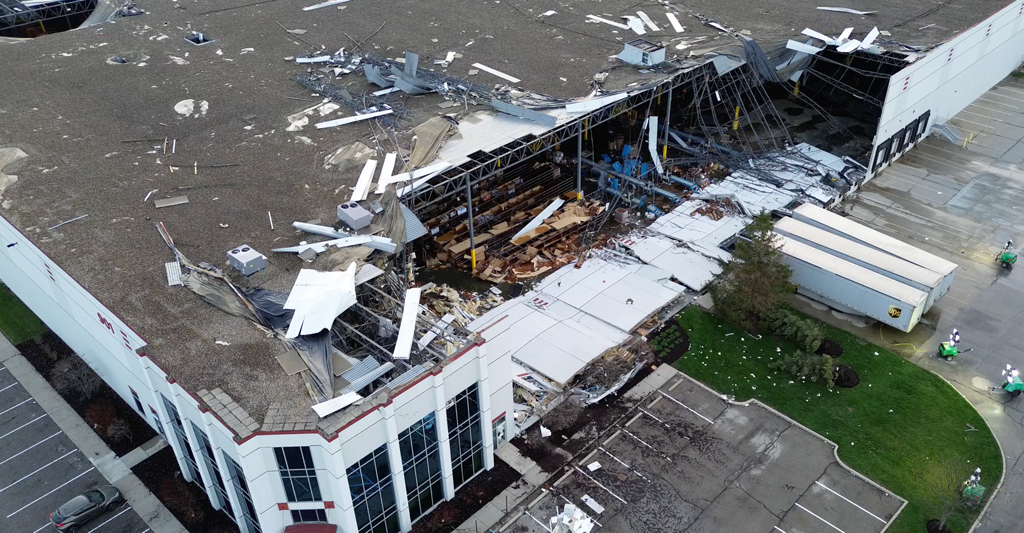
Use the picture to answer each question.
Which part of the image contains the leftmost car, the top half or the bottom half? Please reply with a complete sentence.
Seen from above, the leftmost car lies in the bottom half of the view.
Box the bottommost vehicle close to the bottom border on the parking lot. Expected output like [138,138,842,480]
[48,486,119,533]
